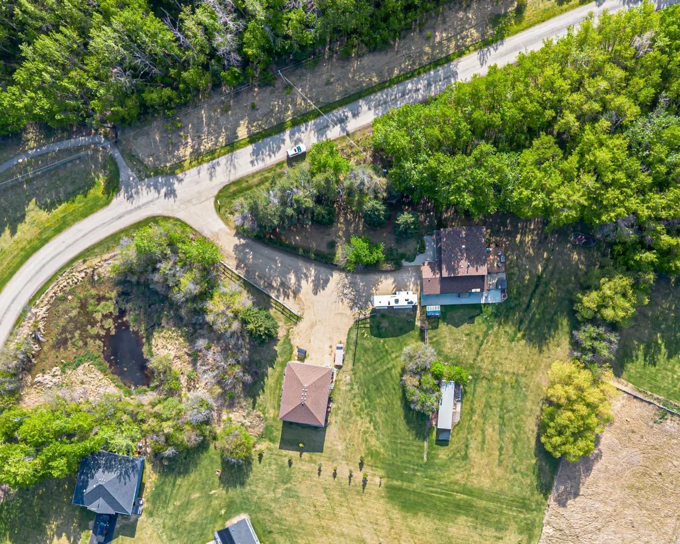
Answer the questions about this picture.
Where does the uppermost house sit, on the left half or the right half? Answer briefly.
right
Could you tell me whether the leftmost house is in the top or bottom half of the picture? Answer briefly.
bottom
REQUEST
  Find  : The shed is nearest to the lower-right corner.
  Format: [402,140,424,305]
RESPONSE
[437,381,454,440]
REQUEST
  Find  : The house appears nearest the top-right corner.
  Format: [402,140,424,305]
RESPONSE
[421,227,505,306]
